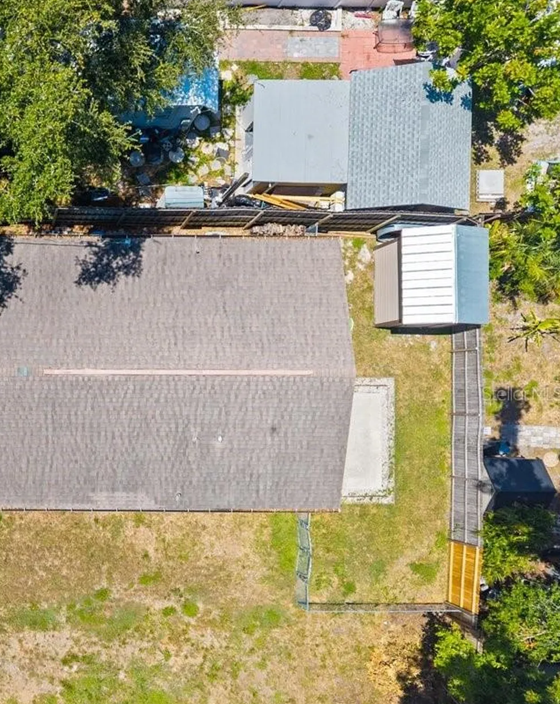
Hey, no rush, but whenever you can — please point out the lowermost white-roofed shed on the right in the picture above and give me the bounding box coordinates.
[375,223,489,327]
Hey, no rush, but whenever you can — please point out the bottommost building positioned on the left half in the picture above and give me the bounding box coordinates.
[0,233,356,515]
